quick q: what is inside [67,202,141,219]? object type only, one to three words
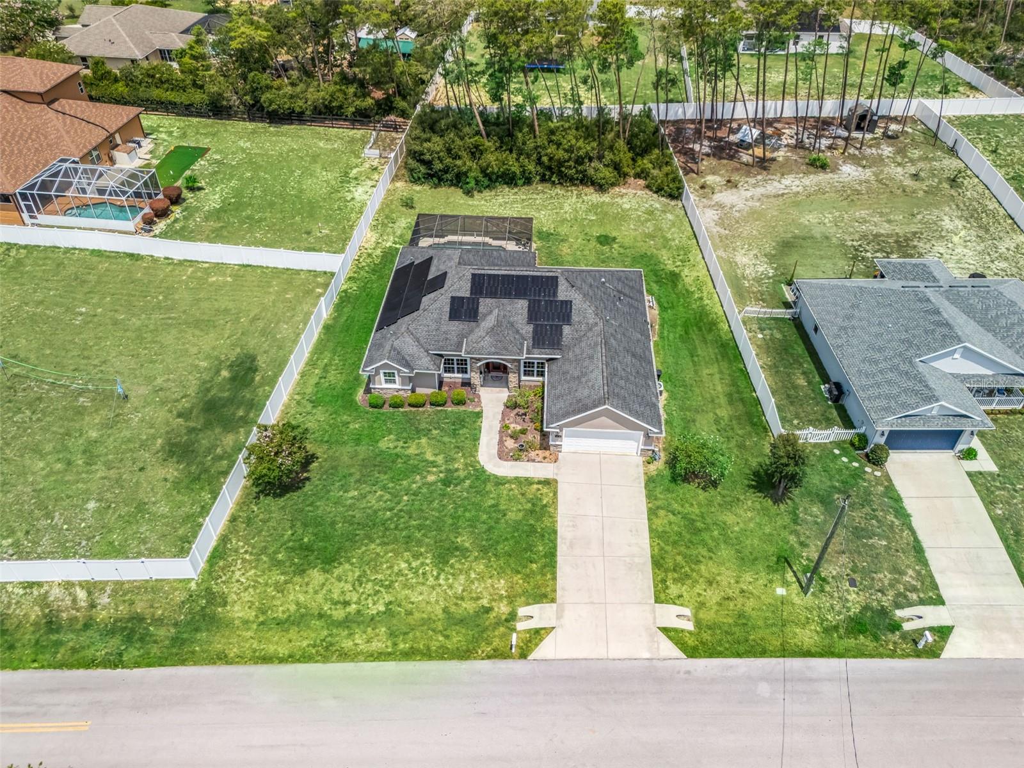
swimming pool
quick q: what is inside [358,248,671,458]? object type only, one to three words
house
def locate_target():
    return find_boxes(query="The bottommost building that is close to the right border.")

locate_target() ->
[795,257,1024,459]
